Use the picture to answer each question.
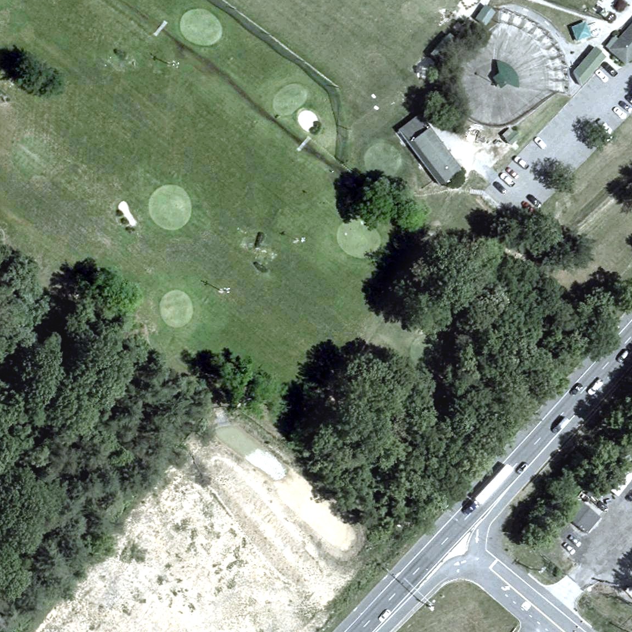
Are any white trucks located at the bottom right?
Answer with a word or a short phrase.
Yes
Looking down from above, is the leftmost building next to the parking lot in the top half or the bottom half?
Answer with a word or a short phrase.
top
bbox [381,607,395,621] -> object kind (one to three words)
car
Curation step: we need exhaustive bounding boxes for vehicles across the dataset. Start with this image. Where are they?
[492,180,507,195]
[612,105,627,120]
[499,173,514,187]
[618,98,632,113]
[533,136,547,150]
[566,534,580,548]
[623,492,632,504]
[594,68,608,83]
[506,165,520,180]
[569,382,583,396]
[381,607,395,621]
[526,192,540,207]
[513,461,527,476]
[552,415,568,431]
[521,200,535,214]
[603,121,615,135]
[587,379,603,396]
[459,463,513,517]
[512,154,528,170]
[602,61,617,77]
